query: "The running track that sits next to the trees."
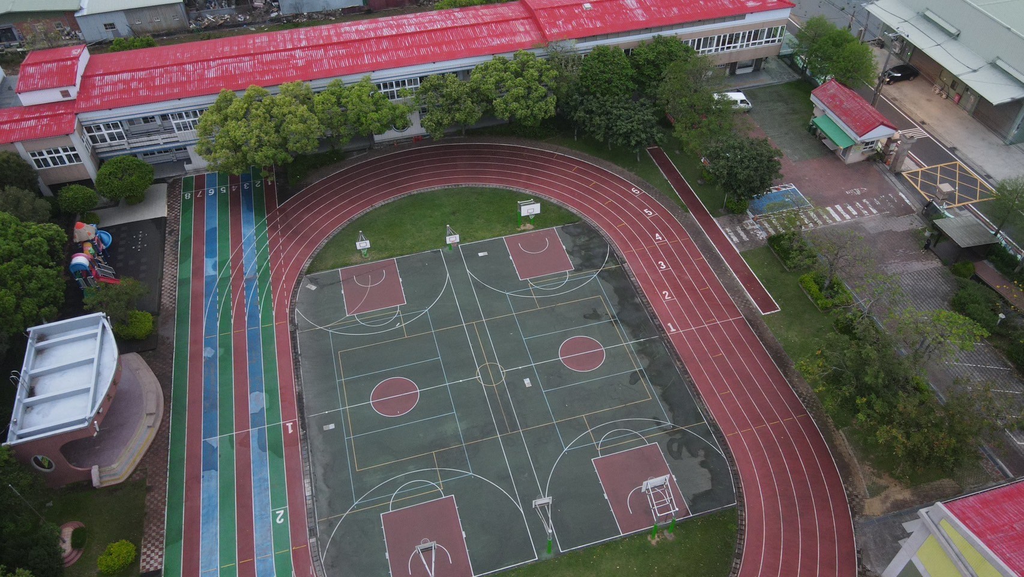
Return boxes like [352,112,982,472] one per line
[277,143,851,577]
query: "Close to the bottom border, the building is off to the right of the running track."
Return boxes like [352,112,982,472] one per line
[881,471,1024,577]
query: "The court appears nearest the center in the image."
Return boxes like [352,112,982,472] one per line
[297,222,732,577]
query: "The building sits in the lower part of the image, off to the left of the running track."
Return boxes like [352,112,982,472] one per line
[1,312,165,487]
